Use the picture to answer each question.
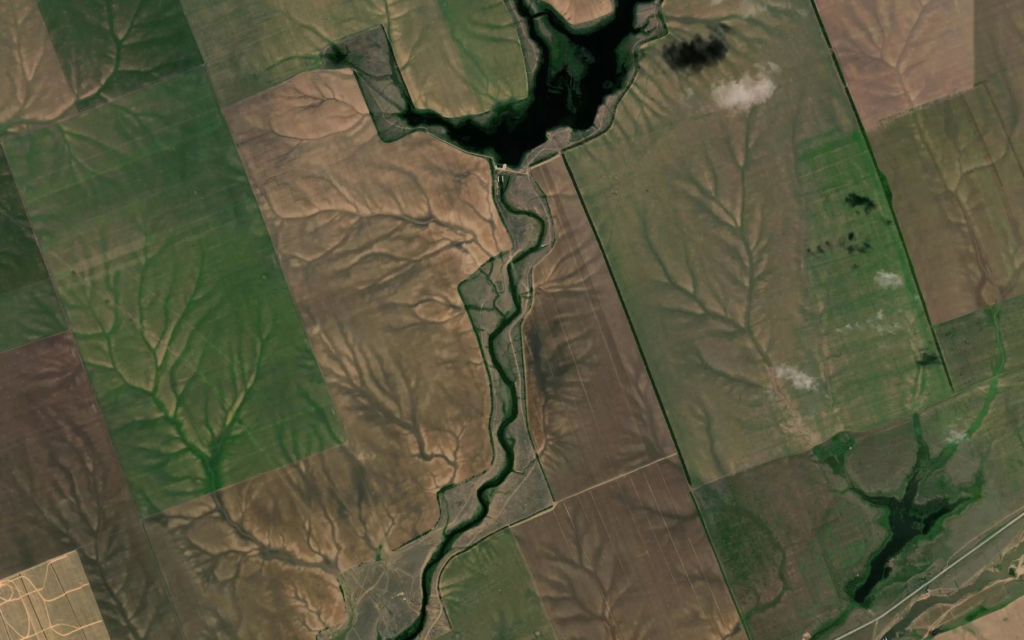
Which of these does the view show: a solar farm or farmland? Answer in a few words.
farmland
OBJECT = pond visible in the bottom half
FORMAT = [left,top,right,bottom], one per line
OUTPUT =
[850,470,974,605]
